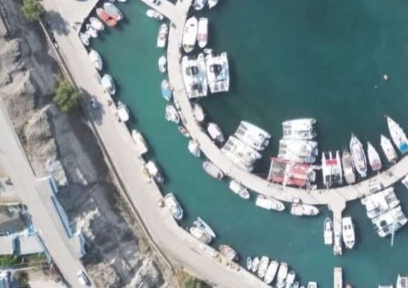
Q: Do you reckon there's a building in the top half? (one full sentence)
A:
No, there is no building in the top half.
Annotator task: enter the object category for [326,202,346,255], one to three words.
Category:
pier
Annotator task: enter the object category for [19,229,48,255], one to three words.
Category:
house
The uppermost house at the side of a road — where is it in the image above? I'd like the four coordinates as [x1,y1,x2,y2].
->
[0,203,25,231]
